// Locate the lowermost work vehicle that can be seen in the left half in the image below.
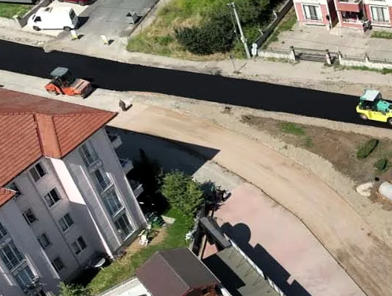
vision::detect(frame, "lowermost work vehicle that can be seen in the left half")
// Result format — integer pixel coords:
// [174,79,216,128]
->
[36,61,94,99]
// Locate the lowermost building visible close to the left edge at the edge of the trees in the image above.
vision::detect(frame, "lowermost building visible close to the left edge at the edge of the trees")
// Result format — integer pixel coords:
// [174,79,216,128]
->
[0,83,153,296]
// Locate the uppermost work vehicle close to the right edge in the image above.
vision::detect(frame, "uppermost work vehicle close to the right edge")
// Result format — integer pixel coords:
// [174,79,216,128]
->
[353,89,392,127]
